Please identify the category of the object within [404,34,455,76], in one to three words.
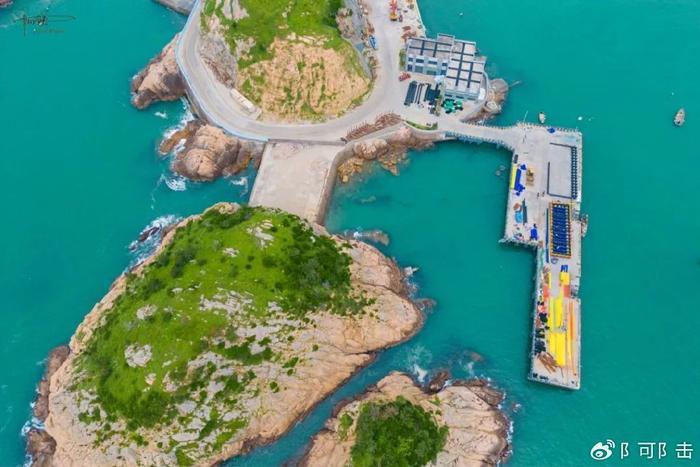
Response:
building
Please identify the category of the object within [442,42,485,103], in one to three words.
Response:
building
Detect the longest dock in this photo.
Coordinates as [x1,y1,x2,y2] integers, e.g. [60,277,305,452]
[444,120,582,389]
